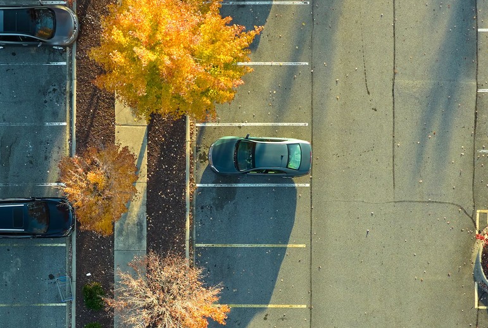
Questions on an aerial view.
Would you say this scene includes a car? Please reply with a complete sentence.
Yes, looking at the shot, I can spot a car.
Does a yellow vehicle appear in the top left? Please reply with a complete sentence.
No, in the top left there is no yellow vehicle.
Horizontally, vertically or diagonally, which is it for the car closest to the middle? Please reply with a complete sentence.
The car closest to the middle is laid out horizontally.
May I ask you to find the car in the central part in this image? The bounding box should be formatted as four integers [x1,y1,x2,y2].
[204,131,311,181]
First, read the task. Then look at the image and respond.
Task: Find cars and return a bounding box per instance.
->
[0,191,81,244]
[204,131,311,181]
[0,0,82,50]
